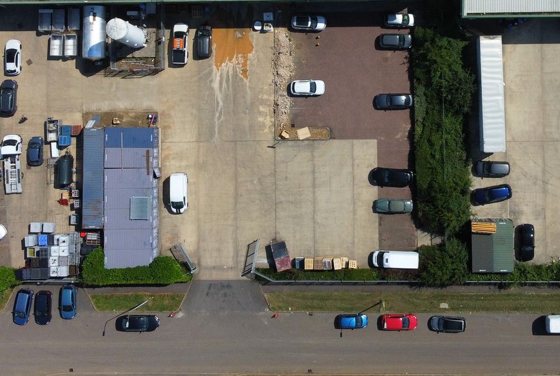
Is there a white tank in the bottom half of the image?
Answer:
No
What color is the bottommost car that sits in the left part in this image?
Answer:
black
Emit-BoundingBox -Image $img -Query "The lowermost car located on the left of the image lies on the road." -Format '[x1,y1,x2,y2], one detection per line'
[117,314,160,334]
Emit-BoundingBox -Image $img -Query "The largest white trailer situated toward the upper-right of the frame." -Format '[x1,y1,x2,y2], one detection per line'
[476,36,505,152]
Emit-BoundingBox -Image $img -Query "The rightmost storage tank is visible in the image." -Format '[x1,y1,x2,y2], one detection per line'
[108,19,154,51]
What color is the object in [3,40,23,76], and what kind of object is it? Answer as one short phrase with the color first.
white car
